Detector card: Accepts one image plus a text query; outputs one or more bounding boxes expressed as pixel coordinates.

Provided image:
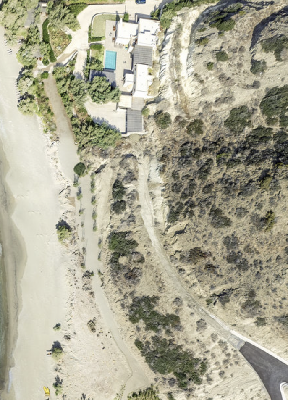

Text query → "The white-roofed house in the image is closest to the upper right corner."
[133,18,161,48]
